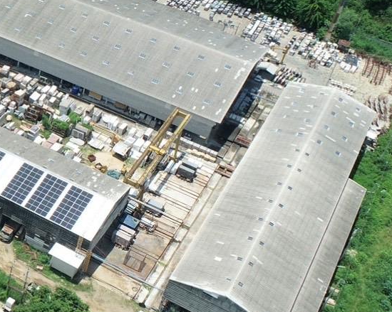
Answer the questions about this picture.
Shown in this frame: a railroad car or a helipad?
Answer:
railroad car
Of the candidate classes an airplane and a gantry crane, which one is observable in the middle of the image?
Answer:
gantry crane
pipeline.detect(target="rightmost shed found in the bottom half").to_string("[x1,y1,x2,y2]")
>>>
[160,83,375,312]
